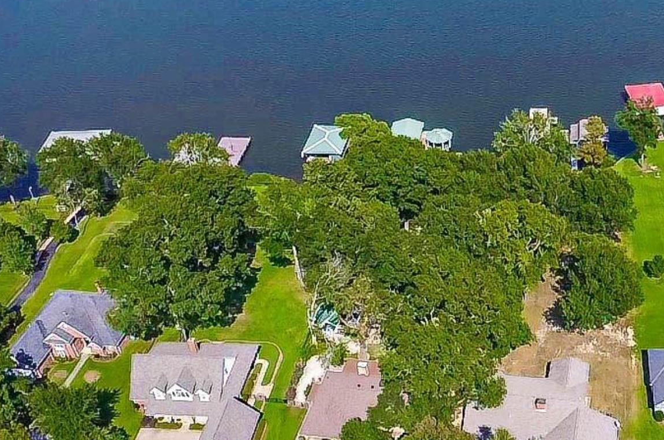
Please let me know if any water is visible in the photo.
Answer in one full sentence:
Yes, water can be seen from above here.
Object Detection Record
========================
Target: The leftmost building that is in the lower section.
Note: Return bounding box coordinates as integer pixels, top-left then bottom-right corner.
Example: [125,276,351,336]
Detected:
[5,284,144,377]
